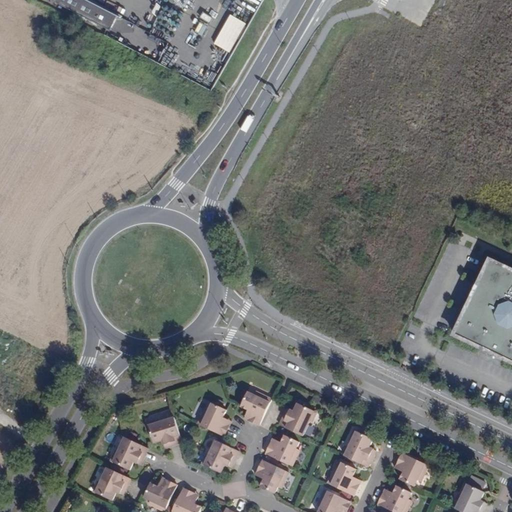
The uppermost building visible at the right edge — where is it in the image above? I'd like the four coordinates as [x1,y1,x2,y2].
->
[450,256,512,363]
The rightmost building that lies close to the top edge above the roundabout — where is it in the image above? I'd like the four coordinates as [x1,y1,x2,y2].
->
[214,15,246,52]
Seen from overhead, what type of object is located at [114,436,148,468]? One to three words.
house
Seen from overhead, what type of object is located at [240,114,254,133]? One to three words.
vehicle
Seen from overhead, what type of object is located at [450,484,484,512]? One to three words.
house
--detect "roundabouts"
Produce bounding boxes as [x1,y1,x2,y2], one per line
[74,204,227,357]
